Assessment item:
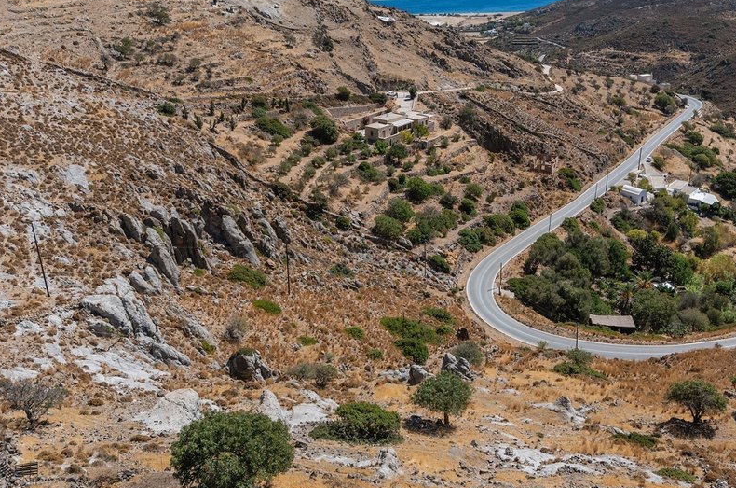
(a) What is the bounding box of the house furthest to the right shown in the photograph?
[666,181,729,206]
